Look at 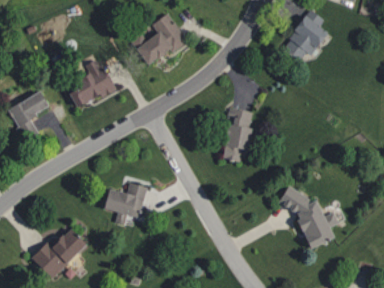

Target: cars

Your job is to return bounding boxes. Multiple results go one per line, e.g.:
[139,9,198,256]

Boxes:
[166,196,176,204]
[343,0,355,8]
[183,10,192,20]
[272,208,282,218]
[154,201,165,208]
[104,124,114,132]
[178,12,186,22]
[91,132,102,139]
[116,117,126,124]
[166,88,177,96]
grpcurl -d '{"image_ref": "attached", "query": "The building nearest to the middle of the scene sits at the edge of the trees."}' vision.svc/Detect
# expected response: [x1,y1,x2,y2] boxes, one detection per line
[223,107,253,162]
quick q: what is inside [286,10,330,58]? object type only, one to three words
house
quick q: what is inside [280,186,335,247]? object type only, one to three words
house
